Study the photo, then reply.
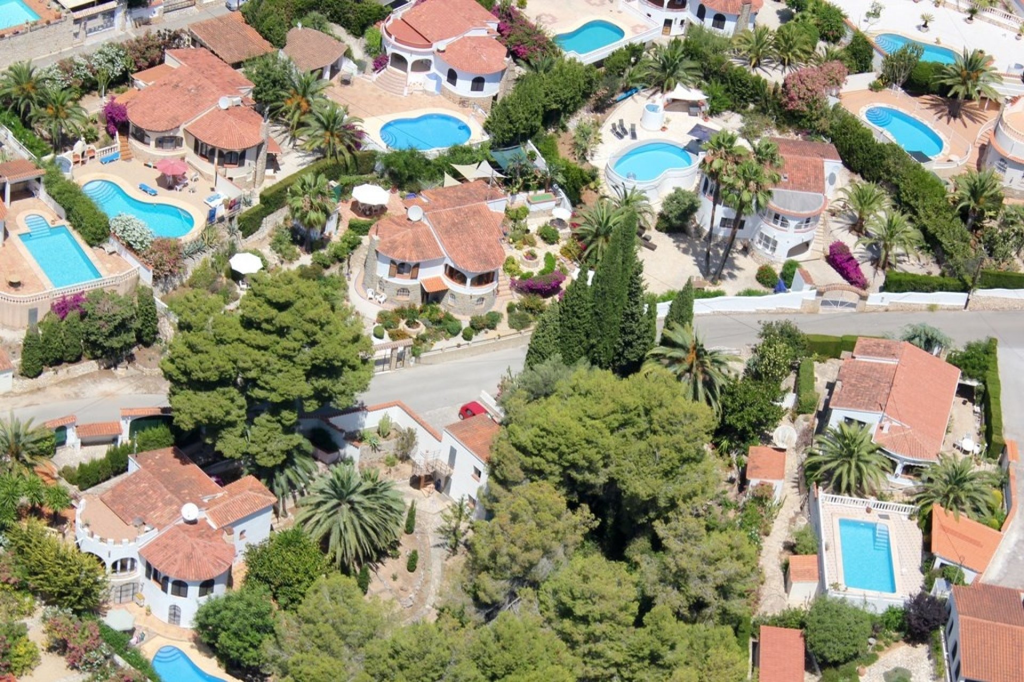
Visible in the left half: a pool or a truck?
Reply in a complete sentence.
The feature located in the left half is a pool.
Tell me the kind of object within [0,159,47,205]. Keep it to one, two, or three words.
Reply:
building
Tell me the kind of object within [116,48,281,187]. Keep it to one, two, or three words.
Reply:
house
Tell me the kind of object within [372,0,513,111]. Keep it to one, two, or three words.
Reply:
house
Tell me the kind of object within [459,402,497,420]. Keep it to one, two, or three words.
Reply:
car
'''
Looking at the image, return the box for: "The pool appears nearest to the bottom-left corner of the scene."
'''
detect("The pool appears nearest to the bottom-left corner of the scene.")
[143,639,242,682]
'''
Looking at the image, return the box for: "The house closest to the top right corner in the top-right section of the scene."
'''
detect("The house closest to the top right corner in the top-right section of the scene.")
[973,102,1024,181]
